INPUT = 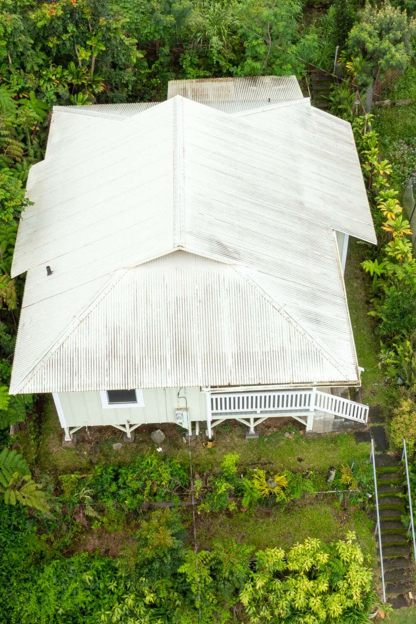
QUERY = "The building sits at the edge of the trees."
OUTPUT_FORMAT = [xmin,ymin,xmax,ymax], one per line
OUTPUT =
[7,76,376,445]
